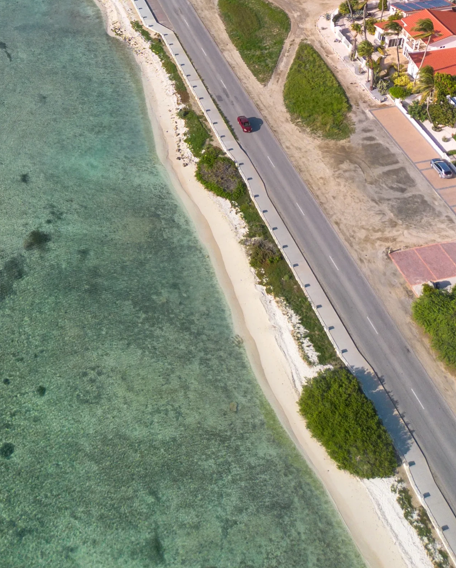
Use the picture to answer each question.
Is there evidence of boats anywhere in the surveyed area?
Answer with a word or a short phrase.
No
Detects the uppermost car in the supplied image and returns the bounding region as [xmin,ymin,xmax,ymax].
[234,119,253,138]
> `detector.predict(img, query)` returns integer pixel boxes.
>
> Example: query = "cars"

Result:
[427,156,456,178]
[234,119,253,138]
